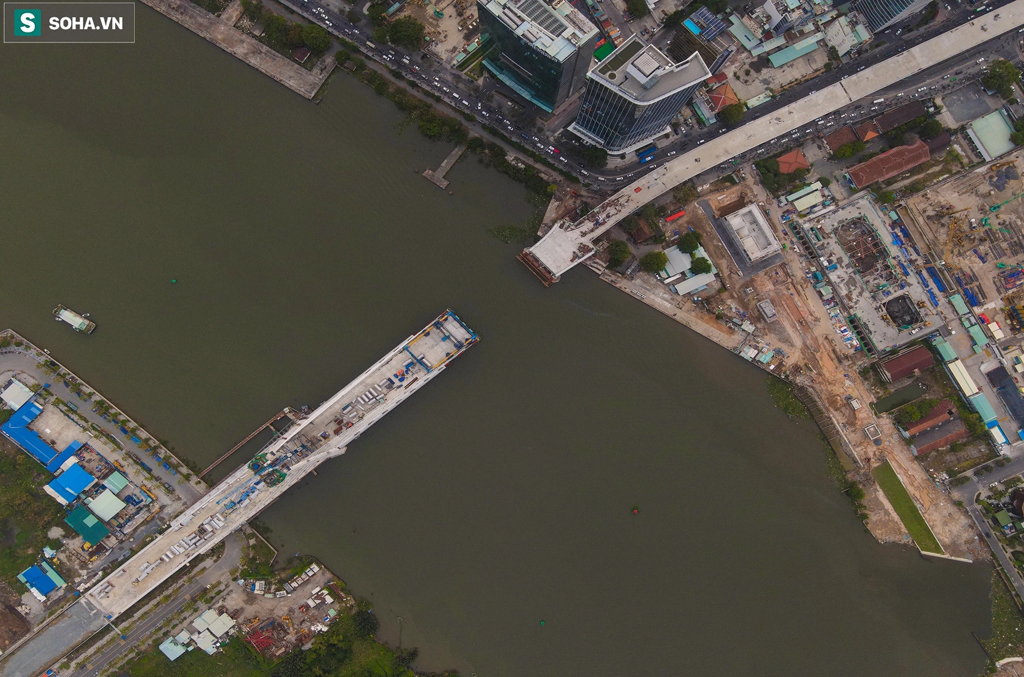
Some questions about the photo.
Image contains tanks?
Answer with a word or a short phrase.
Yes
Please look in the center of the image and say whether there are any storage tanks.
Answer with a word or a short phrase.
No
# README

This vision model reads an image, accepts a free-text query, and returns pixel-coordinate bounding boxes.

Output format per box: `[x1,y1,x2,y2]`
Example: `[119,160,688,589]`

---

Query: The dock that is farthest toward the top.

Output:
[423,146,465,189]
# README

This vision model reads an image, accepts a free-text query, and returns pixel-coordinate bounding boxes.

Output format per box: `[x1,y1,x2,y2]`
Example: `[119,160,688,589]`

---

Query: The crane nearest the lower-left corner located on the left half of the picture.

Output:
[215,443,306,505]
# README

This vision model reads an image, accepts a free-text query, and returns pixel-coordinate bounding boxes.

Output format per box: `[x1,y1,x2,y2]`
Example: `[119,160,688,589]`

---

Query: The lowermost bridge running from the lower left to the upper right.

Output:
[85,312,478,619]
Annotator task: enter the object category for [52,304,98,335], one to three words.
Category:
ship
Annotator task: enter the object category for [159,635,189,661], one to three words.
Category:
shed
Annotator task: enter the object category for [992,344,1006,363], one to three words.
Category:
vehicle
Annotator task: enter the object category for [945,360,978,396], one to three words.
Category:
building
